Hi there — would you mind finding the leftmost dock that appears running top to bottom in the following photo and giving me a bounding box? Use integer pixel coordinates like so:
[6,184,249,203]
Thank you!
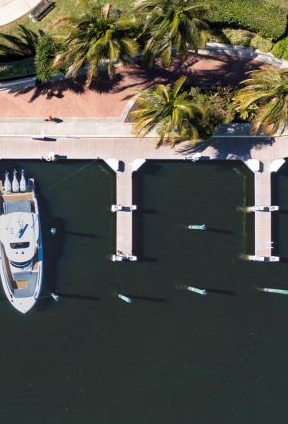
[104,160,145,261]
